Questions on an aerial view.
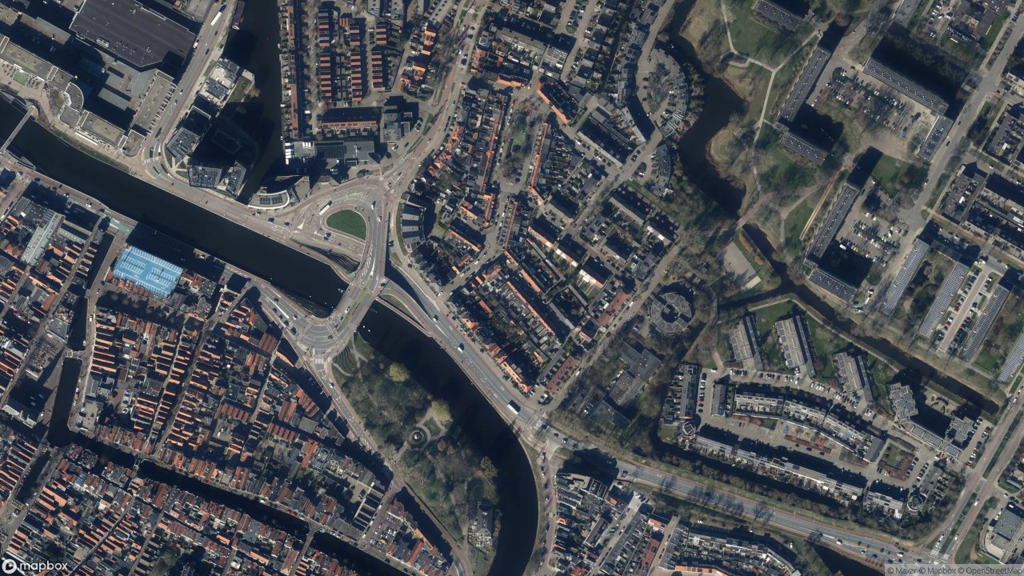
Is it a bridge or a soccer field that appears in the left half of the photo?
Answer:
bridge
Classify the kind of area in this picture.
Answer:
residential area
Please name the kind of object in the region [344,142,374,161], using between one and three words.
building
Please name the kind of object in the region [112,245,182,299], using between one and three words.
house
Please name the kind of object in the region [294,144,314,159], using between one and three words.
building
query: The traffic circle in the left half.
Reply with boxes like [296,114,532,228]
[323,208,367,241]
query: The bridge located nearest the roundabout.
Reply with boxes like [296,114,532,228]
[331,266,381,329]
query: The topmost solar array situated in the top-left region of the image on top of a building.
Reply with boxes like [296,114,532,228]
[202,62,230,102]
